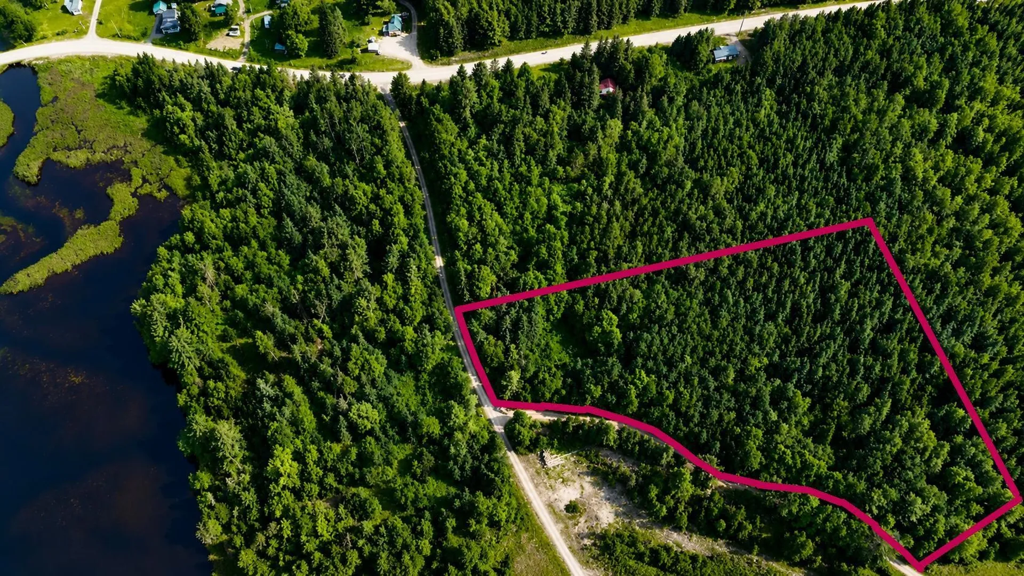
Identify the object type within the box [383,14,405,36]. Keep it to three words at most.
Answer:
house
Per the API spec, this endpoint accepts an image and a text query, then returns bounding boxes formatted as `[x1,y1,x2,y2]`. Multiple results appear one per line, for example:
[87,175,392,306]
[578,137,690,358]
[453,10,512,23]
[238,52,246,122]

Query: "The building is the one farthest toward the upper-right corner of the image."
[709,45,741,62]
